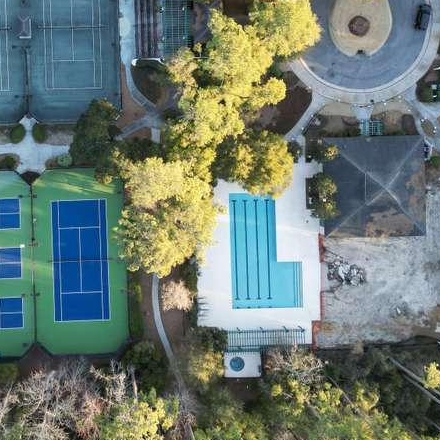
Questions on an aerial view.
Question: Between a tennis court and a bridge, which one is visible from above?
tennis court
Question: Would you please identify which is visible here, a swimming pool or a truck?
swimming pool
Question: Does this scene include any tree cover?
Yes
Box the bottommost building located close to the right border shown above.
[321,135,426,238]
